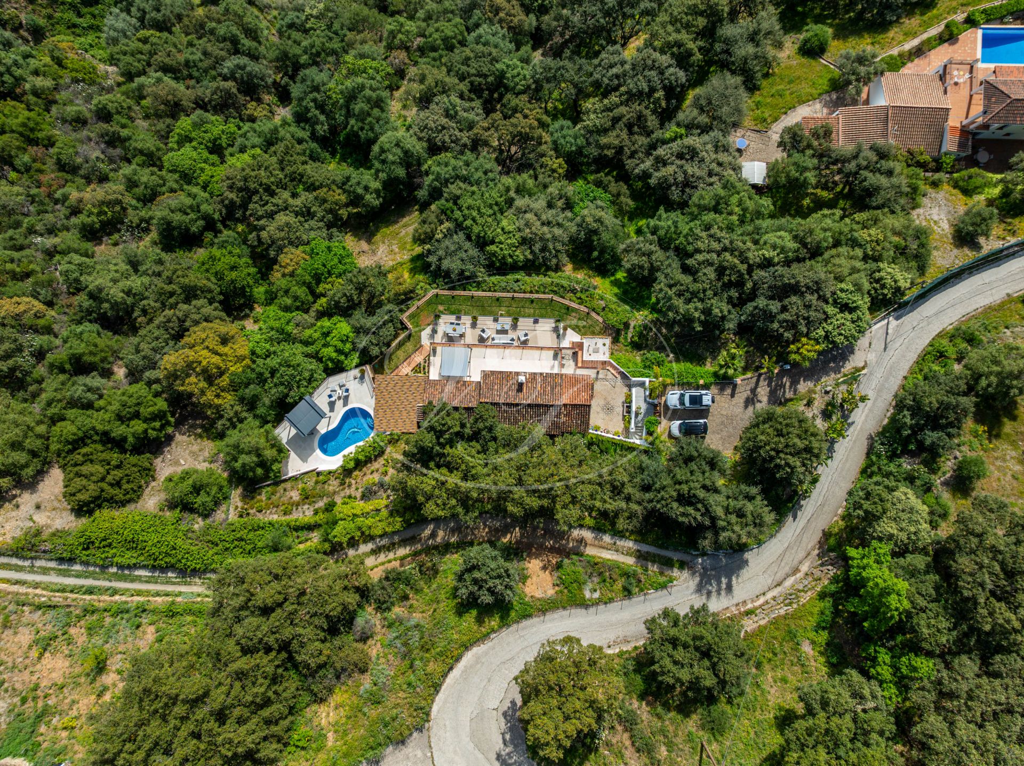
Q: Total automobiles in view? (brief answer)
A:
2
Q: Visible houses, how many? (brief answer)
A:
2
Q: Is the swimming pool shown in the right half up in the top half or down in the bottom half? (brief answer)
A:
top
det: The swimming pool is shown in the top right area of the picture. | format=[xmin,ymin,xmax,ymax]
[978,25,1024,65]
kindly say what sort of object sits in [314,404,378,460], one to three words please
swimming pool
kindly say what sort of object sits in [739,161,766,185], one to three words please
shed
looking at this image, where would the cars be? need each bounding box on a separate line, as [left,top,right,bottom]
[668,418,714,440]
[666,388,718,412]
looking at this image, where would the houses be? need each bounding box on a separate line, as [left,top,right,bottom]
[373,370,594,437]
[792,71,973,165]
